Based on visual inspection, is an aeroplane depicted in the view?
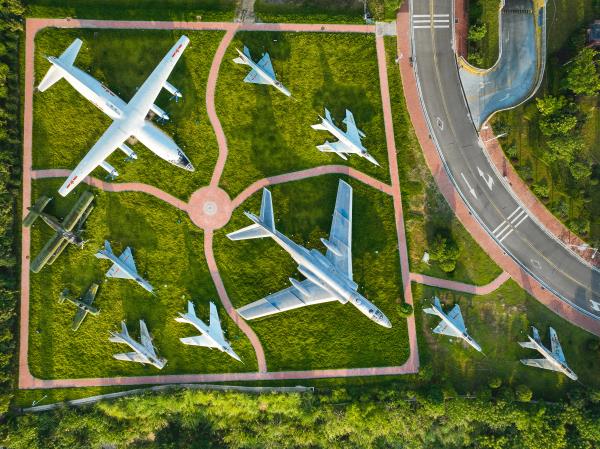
Yes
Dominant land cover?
grass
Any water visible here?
No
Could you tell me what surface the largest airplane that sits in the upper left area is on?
grass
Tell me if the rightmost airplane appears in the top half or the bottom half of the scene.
bottom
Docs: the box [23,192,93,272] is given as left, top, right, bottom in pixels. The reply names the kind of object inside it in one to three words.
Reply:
airplane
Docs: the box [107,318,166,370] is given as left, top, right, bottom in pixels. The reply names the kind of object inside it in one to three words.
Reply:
airplane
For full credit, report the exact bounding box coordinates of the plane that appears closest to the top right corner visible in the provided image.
[309,107,381,169]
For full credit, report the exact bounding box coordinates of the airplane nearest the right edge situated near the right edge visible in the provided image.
[517,325,579,383]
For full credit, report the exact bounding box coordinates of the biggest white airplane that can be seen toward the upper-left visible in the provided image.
[35,37,193,194]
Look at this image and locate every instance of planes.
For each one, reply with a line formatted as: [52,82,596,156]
[175,301,250,361]
[517,325,579,383]
[35,37,193,194]
[233,46,295,101]
[23,192,93,272]
[422,296,485,354]
[58,283,100,331]
[93,240,161,294]
[107,318,166,370]
[227,179,391,327]
[309,107,381,169]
